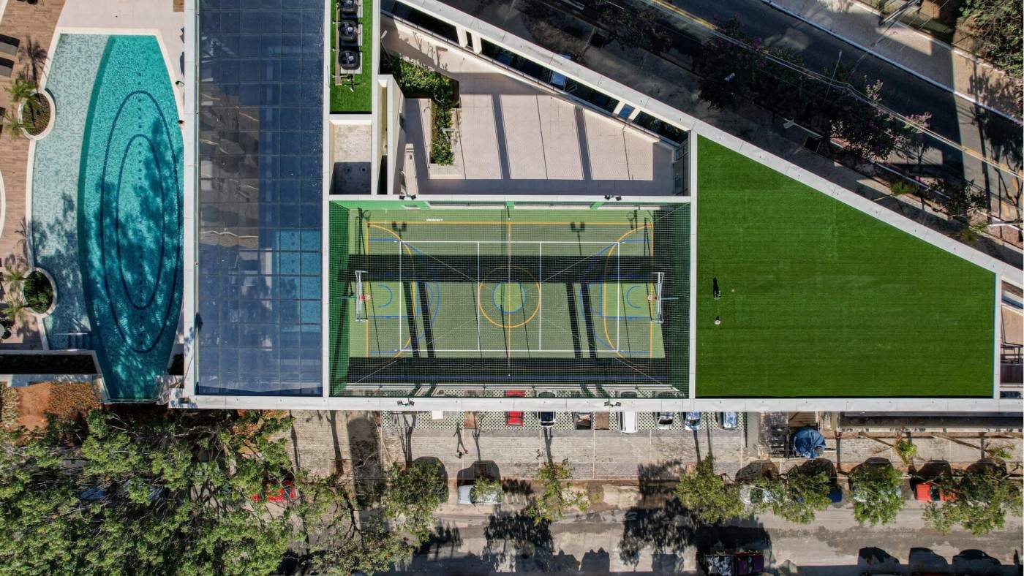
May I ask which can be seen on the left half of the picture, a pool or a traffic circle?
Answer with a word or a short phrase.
pool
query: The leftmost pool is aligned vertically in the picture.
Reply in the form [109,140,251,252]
[23,30,183,402]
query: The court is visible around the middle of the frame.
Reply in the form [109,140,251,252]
[352,212,666,384]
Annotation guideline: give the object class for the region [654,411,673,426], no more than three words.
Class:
car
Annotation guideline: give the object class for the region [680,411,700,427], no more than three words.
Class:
car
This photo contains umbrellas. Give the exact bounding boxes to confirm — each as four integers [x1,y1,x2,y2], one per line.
[789,426,823,458]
